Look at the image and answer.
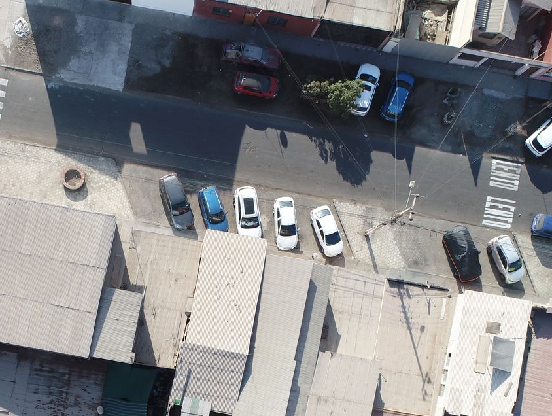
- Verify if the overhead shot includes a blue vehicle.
Yes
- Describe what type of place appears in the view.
residential area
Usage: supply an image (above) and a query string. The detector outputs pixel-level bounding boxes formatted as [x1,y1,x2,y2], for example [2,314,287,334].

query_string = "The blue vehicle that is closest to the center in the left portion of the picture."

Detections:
[196,185,229,232]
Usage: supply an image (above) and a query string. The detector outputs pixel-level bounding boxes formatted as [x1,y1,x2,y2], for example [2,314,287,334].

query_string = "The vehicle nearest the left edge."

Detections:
[157,172,193,231]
